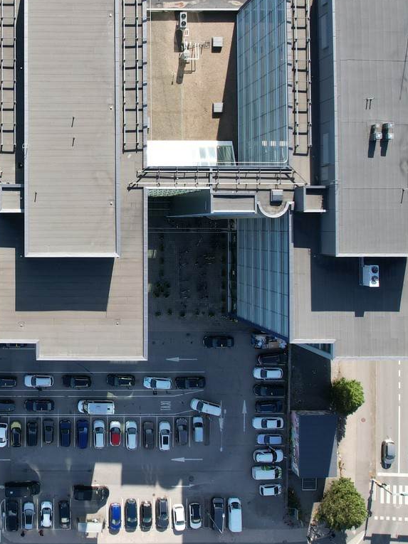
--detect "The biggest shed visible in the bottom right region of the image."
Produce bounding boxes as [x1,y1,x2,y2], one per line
[291,410,338,478]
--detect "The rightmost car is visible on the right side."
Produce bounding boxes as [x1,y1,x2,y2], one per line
[379,437,396,467]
